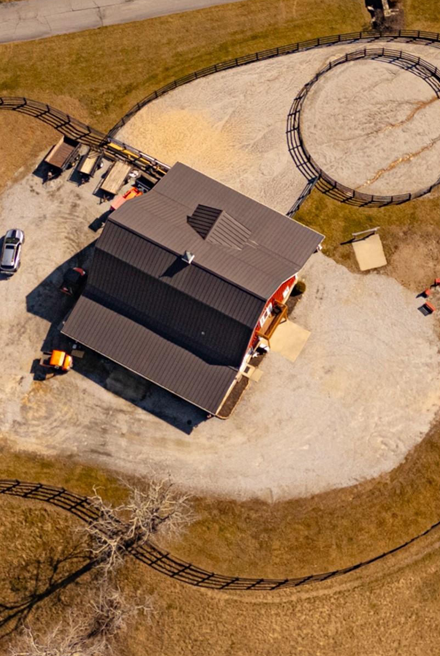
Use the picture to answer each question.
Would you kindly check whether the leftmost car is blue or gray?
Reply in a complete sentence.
The color of the leftmost car is gray.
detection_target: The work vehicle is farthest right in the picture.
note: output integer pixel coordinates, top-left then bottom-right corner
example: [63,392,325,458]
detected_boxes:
[114,183,151,210]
